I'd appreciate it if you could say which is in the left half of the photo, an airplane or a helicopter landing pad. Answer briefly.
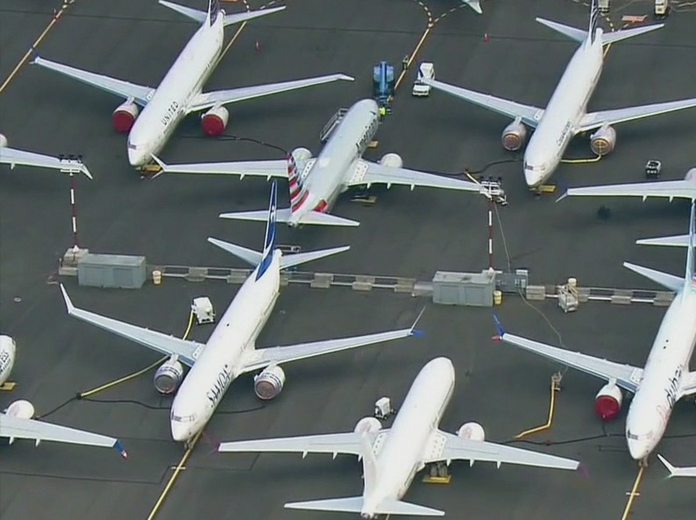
airplane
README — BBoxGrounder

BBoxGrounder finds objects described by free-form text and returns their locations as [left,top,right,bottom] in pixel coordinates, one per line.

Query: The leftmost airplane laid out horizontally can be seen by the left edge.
[0,141,94,186]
